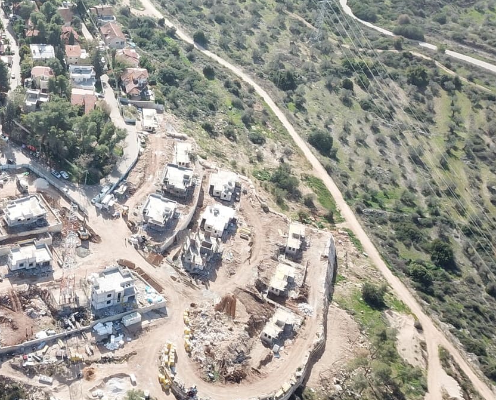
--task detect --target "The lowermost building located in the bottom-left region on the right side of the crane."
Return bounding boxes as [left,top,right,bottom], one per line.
[116,307,151,328]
